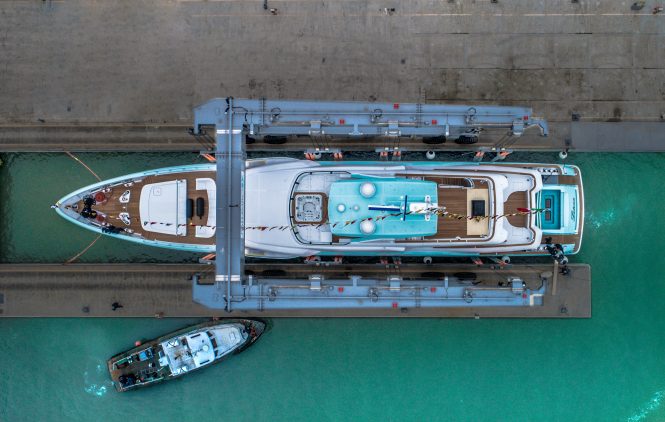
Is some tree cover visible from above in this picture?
No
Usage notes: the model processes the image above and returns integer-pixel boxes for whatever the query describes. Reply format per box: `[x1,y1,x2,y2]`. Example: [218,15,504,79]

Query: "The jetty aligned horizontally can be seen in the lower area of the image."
[0,263,590,317]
